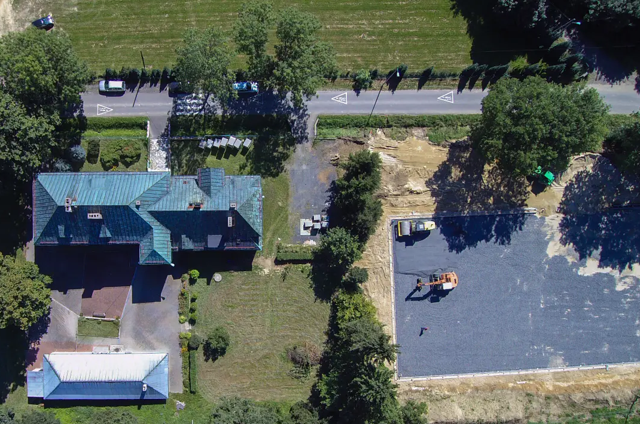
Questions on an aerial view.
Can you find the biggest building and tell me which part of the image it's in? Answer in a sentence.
You can find the biggest building in the left area of the picture.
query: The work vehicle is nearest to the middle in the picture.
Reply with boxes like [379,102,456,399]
[401,220,434,235]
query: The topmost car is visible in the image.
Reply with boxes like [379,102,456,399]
[30,15,55,29]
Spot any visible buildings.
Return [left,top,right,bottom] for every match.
[34,168,265,266]
[28,345,169,401]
